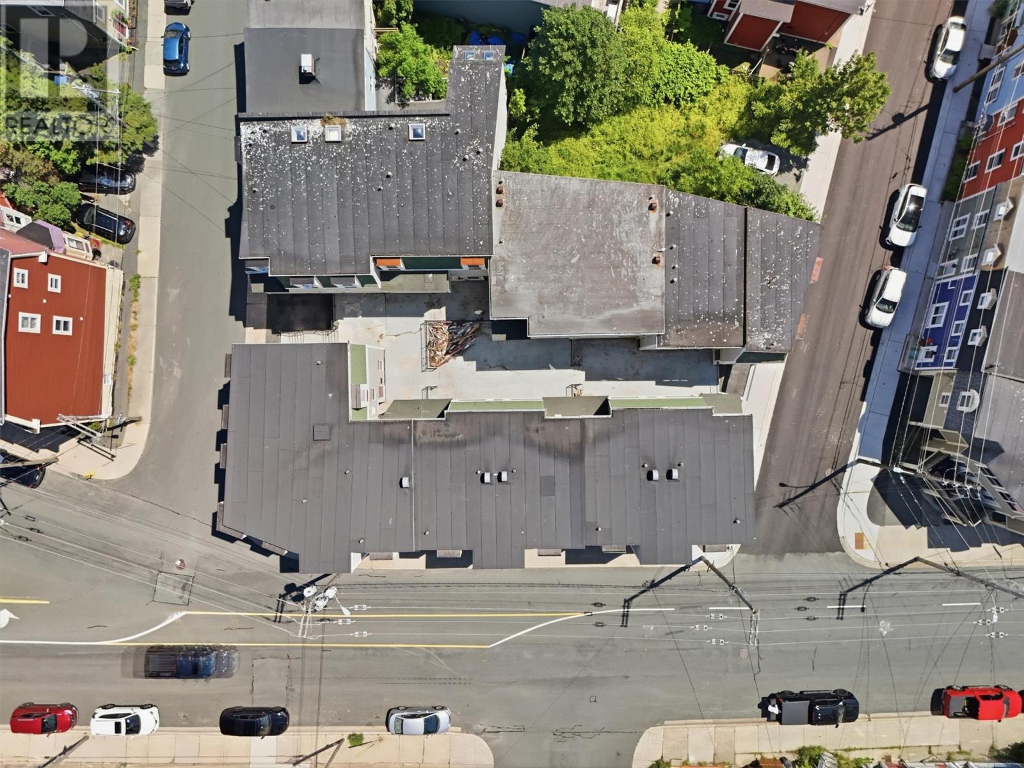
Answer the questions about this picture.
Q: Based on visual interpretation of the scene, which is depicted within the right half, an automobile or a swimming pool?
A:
automobile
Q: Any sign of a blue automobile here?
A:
Yes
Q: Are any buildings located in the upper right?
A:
Yes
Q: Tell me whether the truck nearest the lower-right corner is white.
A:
No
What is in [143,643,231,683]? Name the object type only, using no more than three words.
truck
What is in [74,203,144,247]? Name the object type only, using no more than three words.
car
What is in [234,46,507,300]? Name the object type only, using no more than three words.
building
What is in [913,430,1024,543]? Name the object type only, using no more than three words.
house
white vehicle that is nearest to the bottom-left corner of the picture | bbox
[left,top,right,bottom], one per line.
[88,703,162,741]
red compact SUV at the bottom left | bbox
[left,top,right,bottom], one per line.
[7,701,81,738]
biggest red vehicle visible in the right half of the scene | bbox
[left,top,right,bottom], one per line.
[938,685,1021,725]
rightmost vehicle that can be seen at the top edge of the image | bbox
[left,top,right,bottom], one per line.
[924,13,970,86]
